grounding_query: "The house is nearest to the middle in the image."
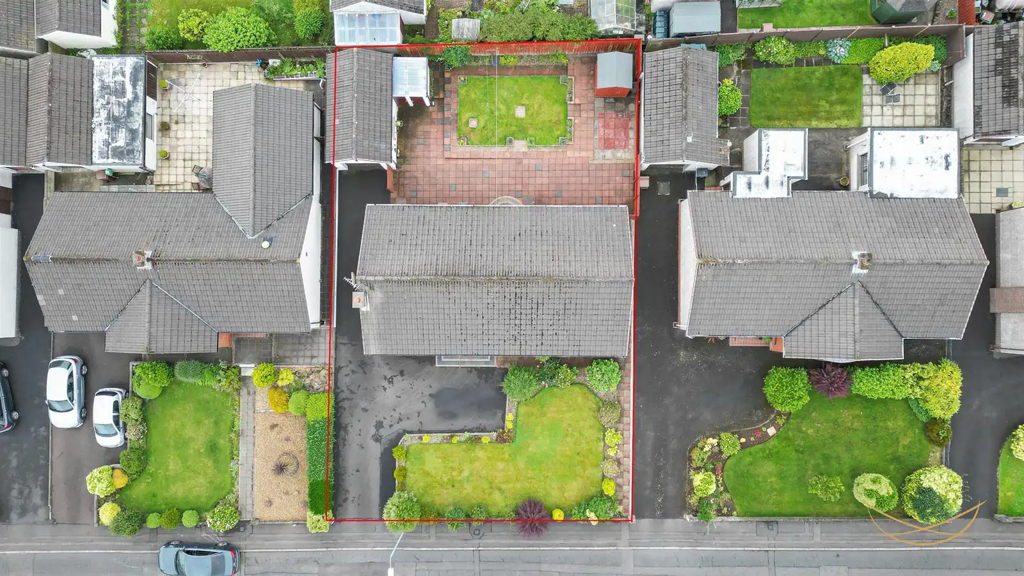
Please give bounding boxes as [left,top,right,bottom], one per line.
[351,203,635,366]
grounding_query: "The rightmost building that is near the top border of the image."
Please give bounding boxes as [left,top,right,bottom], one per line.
[954,18,1024,147]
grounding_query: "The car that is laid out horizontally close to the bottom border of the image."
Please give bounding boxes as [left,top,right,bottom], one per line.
[159,541,239,576]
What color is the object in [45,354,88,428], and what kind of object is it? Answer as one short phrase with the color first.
white car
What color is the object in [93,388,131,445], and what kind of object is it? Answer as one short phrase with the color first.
white car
